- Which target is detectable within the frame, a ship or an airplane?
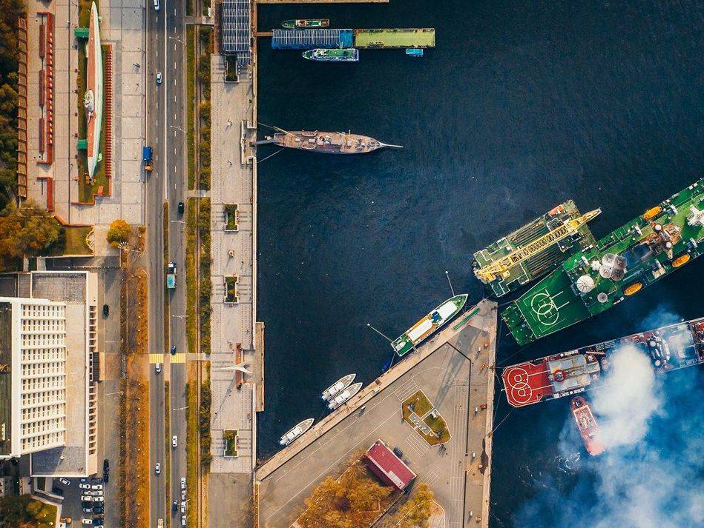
ship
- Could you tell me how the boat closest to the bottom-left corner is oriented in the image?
diagonally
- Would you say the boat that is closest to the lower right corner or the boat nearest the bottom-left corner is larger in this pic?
the boat that is closest to the lower right corner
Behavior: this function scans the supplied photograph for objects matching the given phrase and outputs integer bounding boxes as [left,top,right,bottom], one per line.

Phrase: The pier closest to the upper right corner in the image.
[354,28,436,49]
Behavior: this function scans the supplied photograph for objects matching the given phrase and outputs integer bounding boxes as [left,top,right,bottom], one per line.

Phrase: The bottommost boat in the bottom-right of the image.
[573,397,606,460]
